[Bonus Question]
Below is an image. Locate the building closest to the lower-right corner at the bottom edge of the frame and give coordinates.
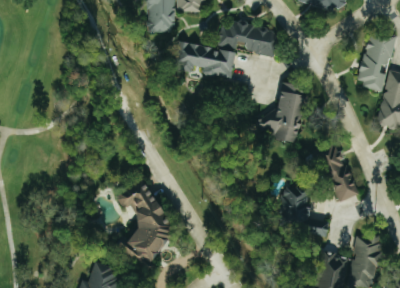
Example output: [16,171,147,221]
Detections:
[352,238,383,288]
